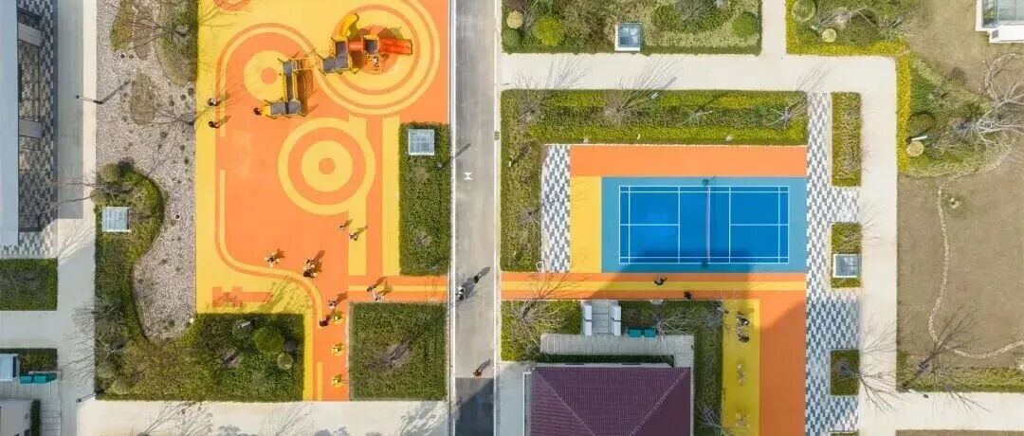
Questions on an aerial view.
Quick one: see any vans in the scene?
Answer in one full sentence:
No, I can't see a single van in this photo.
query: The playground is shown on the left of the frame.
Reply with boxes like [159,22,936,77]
[196,0,449,401]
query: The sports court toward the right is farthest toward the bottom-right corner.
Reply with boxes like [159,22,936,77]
[602,177,806,273]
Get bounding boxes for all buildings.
[524,363,691,436]
[977,0,1024,42]
[0,0,40,245]
[0,401,34,436]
